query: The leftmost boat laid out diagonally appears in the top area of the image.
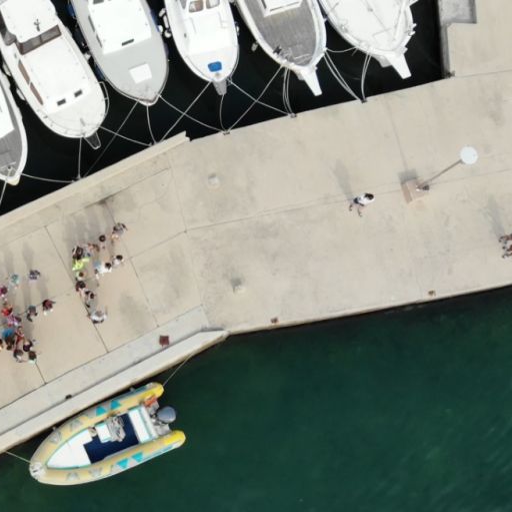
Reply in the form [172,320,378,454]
[0,0,105,145]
